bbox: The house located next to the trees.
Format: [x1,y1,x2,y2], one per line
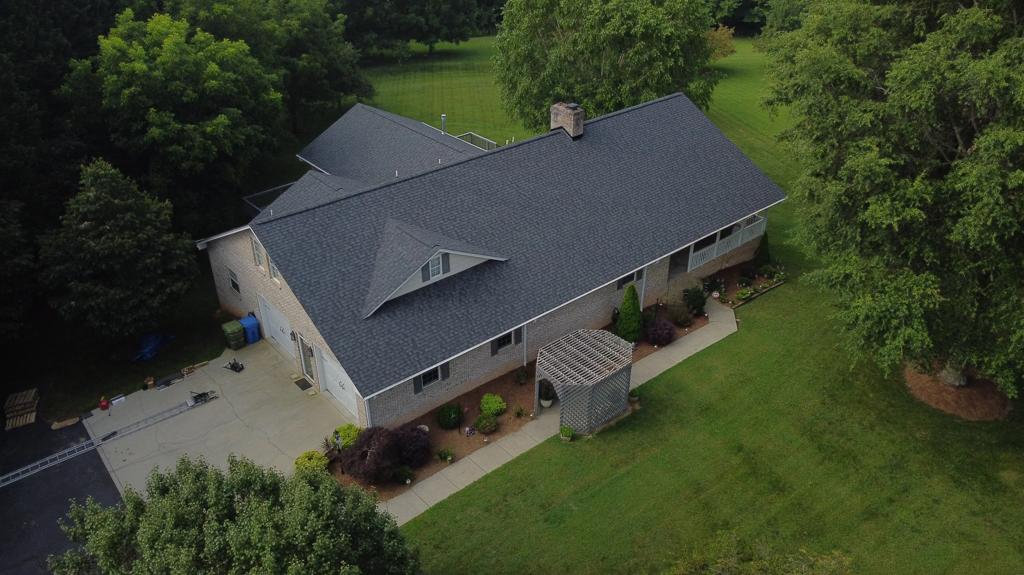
[194,93,787,430]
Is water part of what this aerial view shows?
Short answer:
No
